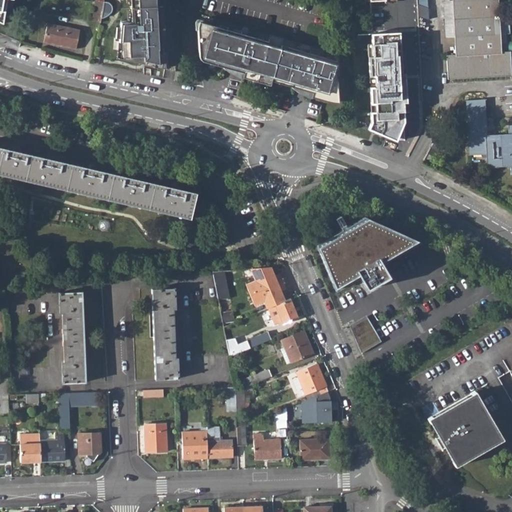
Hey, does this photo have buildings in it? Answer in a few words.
Yes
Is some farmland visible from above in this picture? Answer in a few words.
No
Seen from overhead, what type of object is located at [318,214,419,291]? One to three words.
building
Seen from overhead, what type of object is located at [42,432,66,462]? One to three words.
house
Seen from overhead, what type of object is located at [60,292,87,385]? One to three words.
building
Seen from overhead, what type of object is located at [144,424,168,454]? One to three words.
house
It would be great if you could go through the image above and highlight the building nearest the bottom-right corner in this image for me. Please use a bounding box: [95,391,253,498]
[428,392,505,468]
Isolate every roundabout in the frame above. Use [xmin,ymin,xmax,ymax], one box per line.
[249,113,317,179]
